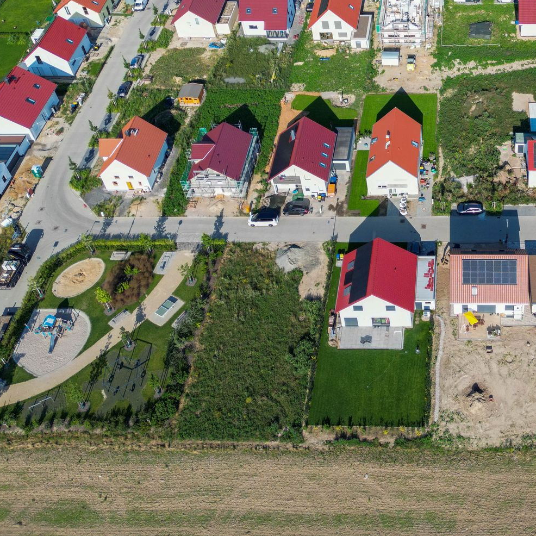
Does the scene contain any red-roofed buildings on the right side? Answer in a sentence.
Yes, there is a red-roofed building on the right side.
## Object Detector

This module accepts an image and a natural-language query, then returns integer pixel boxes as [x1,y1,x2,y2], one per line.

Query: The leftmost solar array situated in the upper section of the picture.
[272,124,298,177]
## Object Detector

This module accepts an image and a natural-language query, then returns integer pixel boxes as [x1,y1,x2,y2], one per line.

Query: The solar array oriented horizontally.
[462,260,516,285]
